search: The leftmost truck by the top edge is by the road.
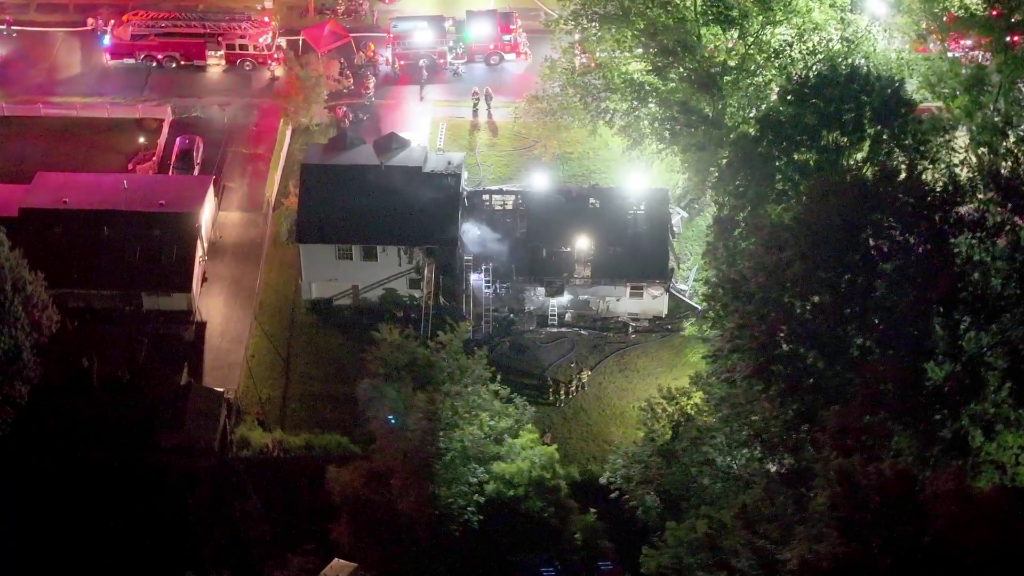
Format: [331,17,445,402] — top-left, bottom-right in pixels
[99,5,282,68]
